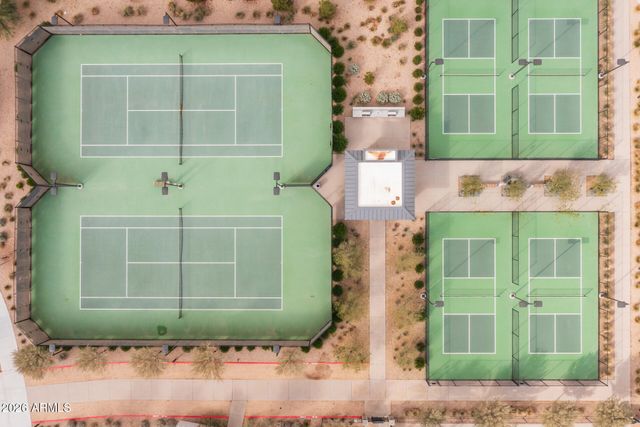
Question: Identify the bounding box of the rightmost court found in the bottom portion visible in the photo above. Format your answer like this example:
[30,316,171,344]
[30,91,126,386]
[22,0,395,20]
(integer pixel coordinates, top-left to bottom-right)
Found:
[513,212,599,380]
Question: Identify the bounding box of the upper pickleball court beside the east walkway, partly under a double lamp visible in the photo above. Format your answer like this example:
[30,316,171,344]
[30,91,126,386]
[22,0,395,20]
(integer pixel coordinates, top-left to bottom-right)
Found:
[513,0,599,159]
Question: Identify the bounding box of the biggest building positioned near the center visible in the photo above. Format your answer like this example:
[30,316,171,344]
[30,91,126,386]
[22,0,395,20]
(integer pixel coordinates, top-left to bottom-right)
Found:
[344,150,416,221]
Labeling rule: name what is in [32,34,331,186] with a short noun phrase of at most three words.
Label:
tennis court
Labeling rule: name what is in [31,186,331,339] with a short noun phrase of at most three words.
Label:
tennis court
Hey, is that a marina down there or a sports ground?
sports ground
